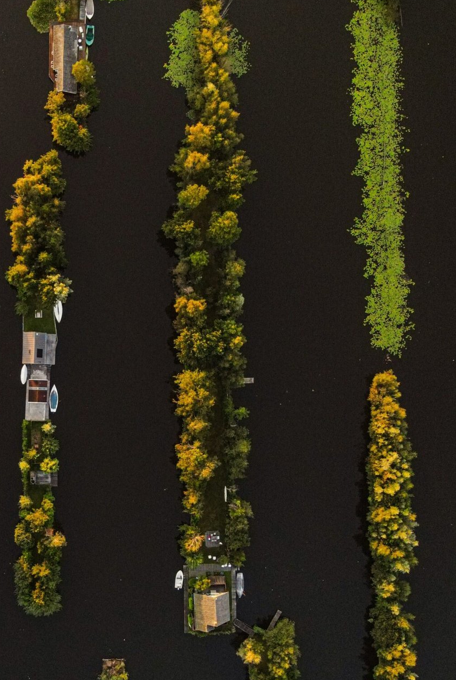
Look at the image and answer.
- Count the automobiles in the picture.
0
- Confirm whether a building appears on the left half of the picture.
Yes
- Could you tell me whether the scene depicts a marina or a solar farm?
marina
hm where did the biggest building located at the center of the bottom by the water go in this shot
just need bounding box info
[193,591,229,634]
